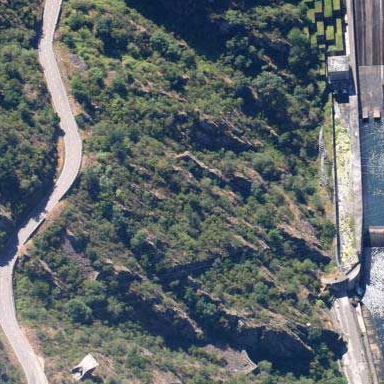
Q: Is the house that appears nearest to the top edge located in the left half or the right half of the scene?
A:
right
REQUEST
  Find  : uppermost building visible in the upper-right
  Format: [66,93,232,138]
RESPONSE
[328,56,350,85]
